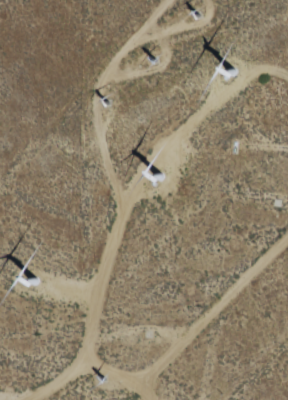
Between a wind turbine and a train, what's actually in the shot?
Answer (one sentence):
The one in the frame is a wind turbine.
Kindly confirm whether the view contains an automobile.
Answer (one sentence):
No, there is no automobile in the image.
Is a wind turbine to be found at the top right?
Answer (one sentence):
Yes, a wind turbine can be seen at the top right.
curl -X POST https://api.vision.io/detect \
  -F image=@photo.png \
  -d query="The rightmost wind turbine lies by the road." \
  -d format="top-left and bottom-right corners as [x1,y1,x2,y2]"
[204,38,238,98]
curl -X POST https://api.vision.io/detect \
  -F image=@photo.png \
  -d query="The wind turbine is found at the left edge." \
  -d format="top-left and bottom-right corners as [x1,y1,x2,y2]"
[2,244,41,306]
